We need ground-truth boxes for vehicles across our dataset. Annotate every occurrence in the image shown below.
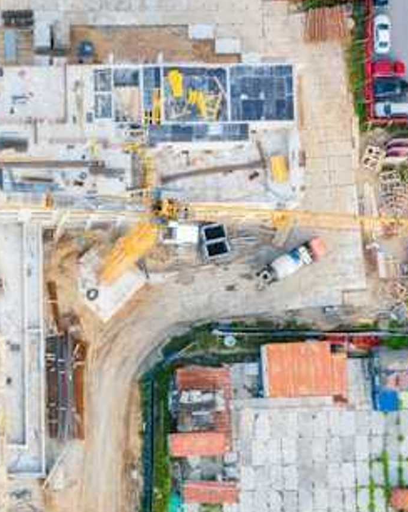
[377,74,408,96]
[259,229,337,288]
[377,55,408,76]
[377,97,408,117]
[376,13,396,52]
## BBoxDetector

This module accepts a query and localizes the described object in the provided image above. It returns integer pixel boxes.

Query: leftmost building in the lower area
[0,207,138,475]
